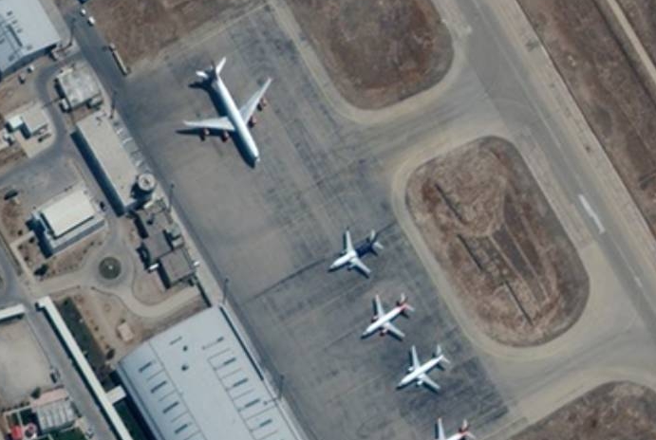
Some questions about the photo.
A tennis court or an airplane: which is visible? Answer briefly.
airplane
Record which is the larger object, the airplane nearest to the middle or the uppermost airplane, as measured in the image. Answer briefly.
the uppermost airplane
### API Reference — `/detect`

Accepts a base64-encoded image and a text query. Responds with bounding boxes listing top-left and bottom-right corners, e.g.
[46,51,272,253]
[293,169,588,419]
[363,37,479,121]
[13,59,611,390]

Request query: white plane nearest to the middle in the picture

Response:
[327,230,381,273]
